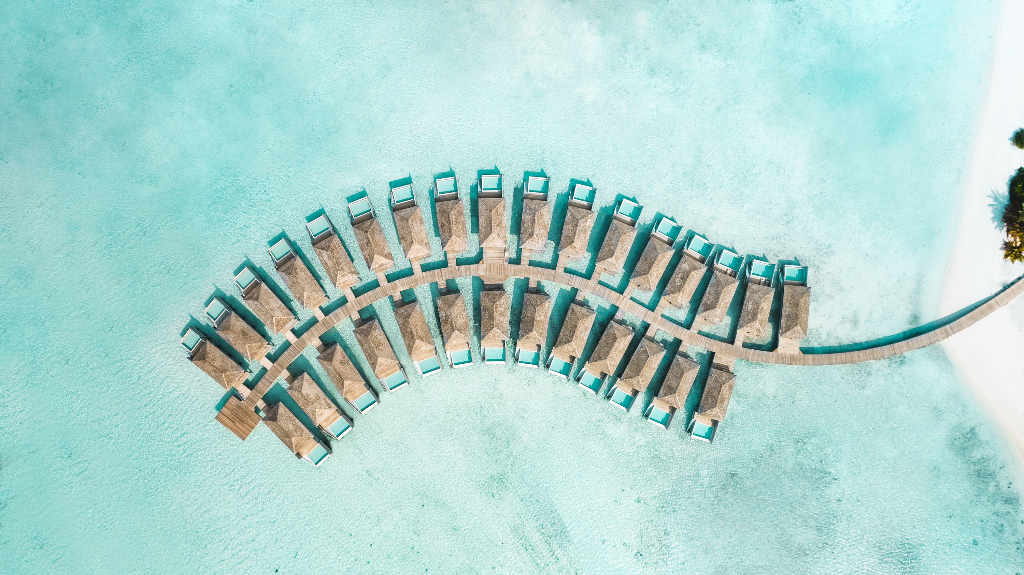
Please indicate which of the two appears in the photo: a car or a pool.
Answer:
pool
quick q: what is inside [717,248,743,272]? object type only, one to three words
swimming pool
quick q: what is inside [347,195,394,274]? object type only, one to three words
house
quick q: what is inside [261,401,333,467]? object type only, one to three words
house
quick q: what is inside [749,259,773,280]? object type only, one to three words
swimming pool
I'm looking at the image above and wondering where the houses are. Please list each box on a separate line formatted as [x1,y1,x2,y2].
[687,363,737,445]
[608,334,666,413]
[437,291,474,366]
[347,195,394,274]
[480,275,508,365]
[577,317,634,397]
[306,213,360,291]
[736,263,777,338]
[478,174,506,252]
[659,237,717,311]
[595,201,645,276]
[434,175,468,255]
[180,326,249,391]
[390,183,431,263]
[777,264,810,340]
[270,236,328,311]
[629,220,684,294]
[520,177,550,254]
[558,186,597,262]
[285,372,354,439]
[261,401,333,467]
[316,343,380,413]
[695,251,746,327]
[546,299,596,380]
[205,295,272,362]
[394,301,443,375]
[233,265,298,335]
[514,288,551,369]
[644,350,700,431]
[353,319,410,390]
